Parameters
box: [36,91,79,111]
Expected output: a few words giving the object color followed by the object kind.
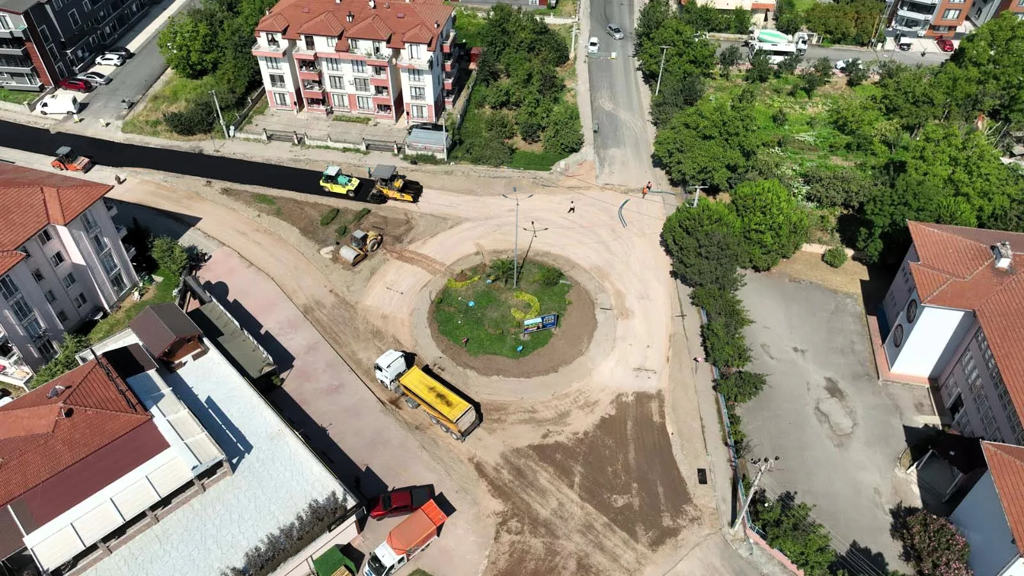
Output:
white vehicle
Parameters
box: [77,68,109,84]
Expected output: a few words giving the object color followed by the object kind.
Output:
gray car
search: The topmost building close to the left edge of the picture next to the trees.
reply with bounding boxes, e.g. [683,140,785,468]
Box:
[0,0,193,94]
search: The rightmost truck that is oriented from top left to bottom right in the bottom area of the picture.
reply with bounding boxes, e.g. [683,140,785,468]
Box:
[366,350,477,435]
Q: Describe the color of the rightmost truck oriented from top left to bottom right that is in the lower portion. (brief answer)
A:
yellow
